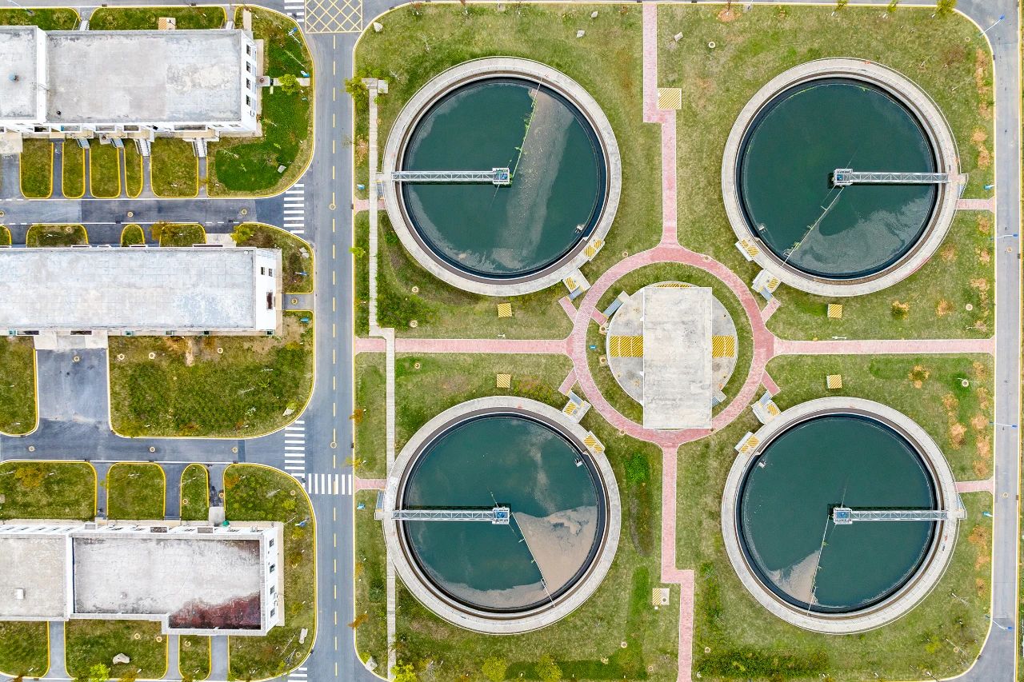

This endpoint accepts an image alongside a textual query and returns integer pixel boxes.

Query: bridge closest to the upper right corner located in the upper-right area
[831,166,954,185]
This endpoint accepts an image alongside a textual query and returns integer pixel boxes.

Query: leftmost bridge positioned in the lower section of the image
[391,507,510,526]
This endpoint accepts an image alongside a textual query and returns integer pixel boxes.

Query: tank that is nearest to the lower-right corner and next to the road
[720,391,971,636]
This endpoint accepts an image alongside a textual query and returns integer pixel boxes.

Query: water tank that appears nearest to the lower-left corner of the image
[374,391,620,636]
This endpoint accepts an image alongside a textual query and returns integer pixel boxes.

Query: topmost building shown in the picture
[0,9,310,157]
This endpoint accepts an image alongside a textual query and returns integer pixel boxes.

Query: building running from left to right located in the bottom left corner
[0,506,284,636]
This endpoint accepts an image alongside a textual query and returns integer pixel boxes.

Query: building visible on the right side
[603,281,738,428]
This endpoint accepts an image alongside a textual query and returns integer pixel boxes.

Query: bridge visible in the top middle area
[391,166,510,185]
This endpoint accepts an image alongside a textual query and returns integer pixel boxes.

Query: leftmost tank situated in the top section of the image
[374,56,621,302]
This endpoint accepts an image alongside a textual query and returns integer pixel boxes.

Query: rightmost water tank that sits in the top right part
[721,57,970,302]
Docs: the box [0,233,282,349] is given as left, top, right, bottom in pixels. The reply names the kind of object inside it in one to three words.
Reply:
building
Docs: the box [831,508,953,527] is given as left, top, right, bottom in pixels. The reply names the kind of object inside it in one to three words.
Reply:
bridge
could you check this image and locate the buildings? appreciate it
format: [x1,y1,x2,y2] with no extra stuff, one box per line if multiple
[0,506,284,636]
[0,233,282,349]
[603,281,738,428]
[0,9,310,157]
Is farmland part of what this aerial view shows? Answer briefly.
No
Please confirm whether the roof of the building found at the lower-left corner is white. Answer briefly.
Yes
